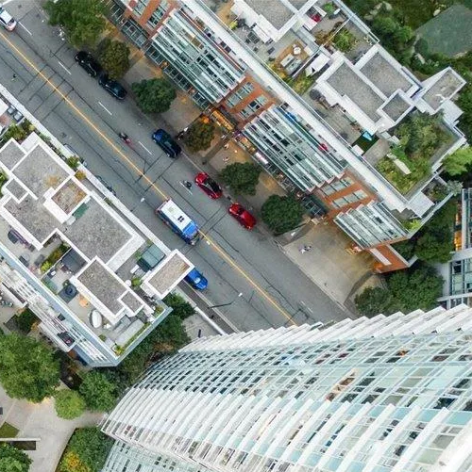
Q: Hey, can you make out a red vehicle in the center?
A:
Yes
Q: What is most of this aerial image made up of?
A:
buildings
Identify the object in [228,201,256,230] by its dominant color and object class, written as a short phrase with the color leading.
red car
